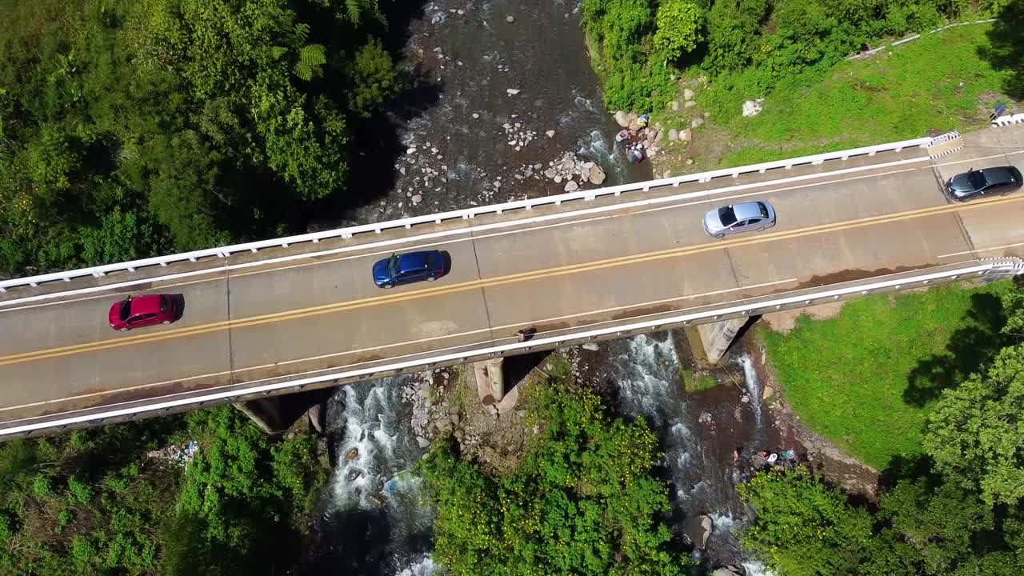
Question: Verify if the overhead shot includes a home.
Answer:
No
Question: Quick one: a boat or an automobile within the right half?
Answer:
automobile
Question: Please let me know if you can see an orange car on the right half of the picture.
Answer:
No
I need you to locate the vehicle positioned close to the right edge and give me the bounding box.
[946,167,1021,203]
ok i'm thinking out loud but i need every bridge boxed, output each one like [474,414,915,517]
[0,136,1024,479]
